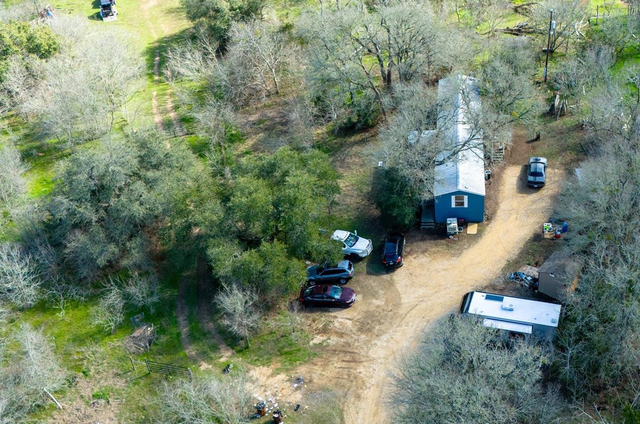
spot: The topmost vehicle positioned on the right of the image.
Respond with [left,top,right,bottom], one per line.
[526,158,548,190]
